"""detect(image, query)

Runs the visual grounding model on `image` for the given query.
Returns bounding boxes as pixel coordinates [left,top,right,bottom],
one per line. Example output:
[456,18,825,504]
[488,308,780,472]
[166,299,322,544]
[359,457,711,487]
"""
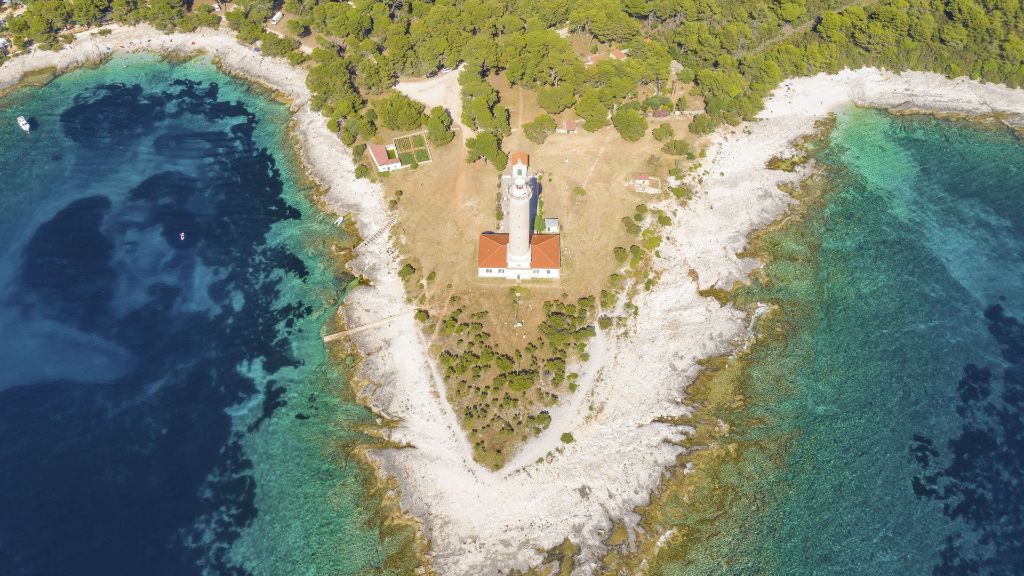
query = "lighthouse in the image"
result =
[478,178,560,283]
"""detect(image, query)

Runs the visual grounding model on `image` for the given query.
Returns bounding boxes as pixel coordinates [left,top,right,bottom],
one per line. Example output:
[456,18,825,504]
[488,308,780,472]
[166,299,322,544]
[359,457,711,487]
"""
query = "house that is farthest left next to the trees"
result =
[373,138,403,172]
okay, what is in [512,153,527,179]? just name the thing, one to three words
building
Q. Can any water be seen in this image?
Yes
